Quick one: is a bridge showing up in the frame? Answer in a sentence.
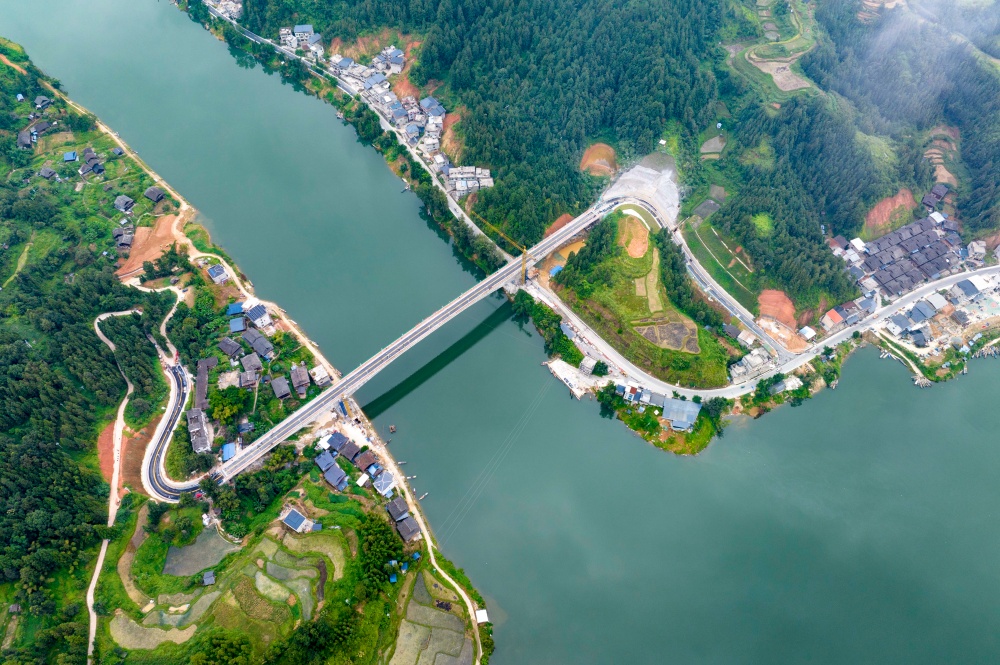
Yes, this view includes a bridge.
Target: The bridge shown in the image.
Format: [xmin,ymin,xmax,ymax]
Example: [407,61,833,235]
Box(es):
[219,208,600,478]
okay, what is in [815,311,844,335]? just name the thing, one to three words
house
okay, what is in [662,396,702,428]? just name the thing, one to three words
building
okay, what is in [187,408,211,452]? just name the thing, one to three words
house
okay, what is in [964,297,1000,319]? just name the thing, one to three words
basketball court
